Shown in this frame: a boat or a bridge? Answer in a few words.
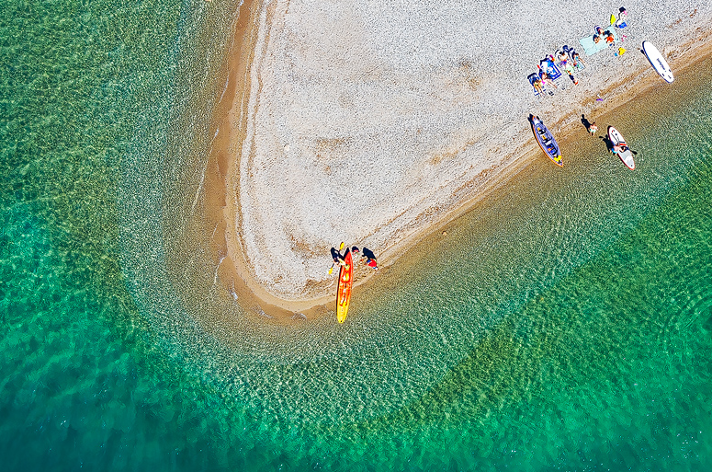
boat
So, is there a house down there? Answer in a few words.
No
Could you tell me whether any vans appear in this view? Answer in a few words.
No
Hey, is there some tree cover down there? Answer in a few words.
No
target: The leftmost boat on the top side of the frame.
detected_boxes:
[534,116,564,166]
